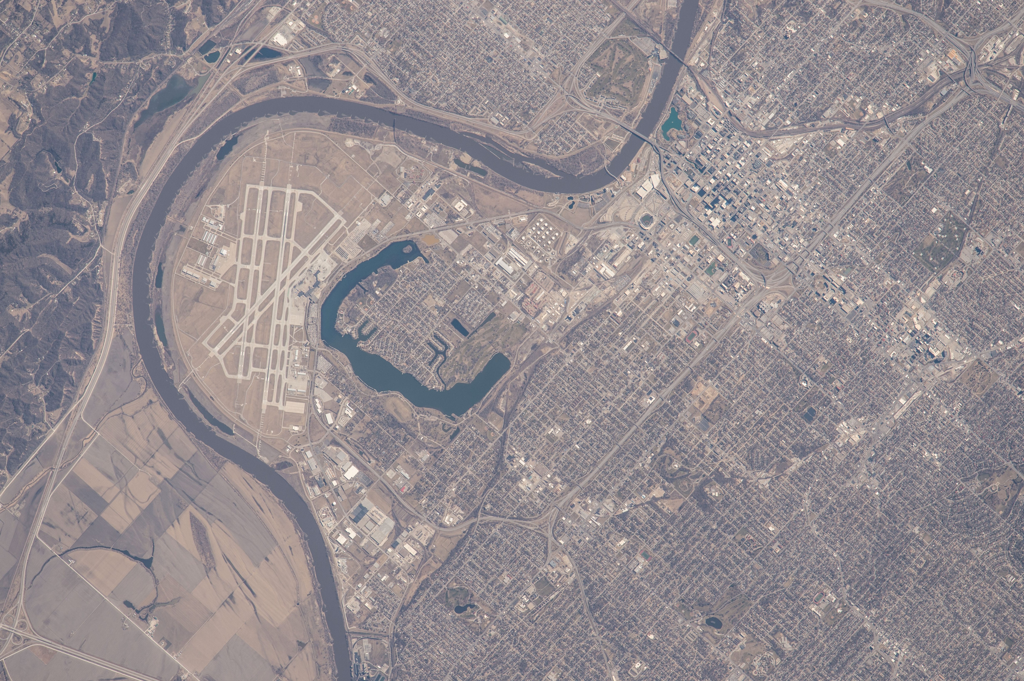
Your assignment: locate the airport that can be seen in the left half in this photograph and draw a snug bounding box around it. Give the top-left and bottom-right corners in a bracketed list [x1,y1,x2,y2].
[173,130,392,444]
